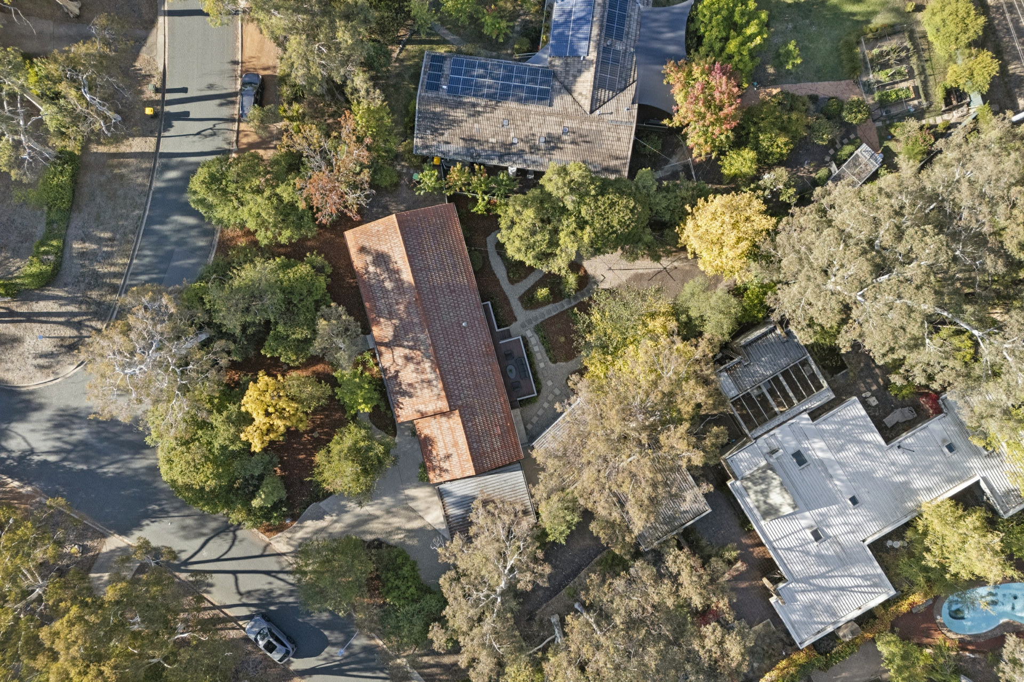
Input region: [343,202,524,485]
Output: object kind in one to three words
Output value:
house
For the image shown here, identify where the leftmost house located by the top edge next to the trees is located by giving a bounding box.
[412,0,643,182]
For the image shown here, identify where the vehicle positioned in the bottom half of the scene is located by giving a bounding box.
[238,609,303,669]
